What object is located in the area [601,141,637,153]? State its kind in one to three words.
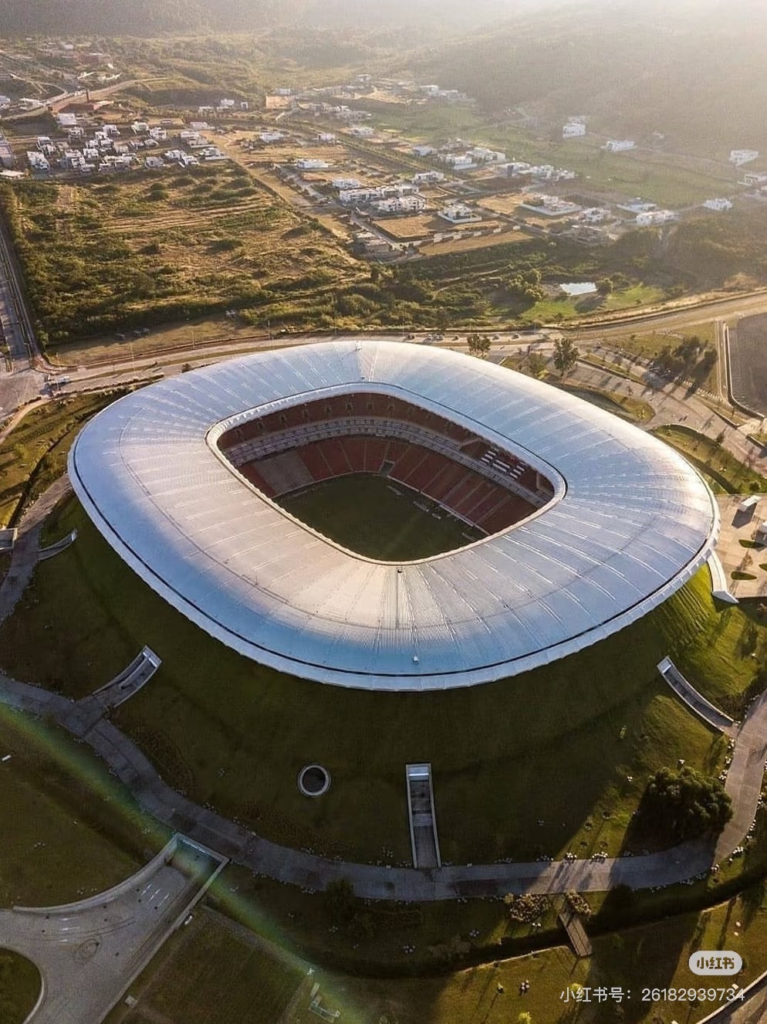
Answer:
house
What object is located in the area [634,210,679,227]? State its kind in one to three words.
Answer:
house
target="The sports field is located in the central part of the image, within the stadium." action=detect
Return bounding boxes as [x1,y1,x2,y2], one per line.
[272,472,489,560]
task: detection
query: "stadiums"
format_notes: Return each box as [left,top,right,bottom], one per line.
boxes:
[64,338,729,693]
